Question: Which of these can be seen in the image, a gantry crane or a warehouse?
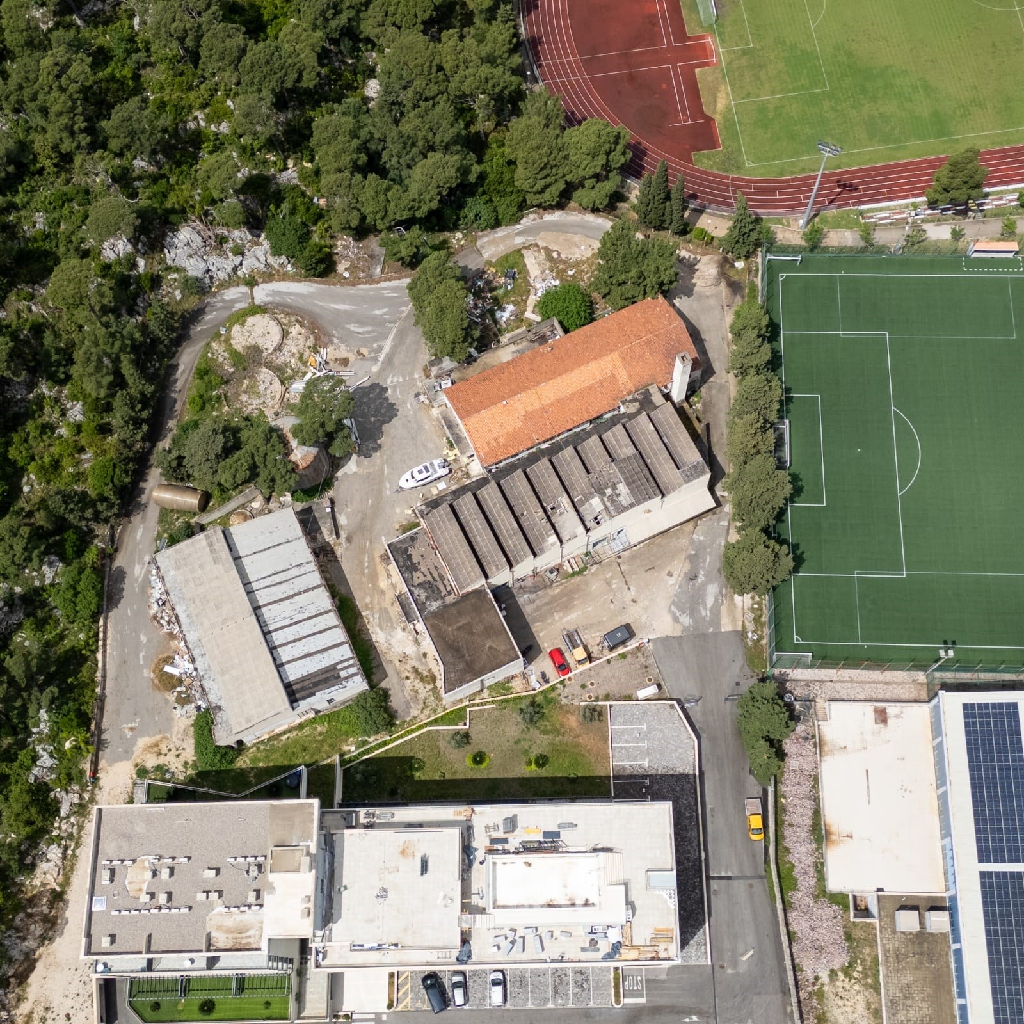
warehouse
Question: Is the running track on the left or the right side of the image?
right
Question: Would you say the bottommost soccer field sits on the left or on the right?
right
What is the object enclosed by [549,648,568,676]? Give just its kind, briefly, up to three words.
car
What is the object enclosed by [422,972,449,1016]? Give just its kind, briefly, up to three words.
vehicle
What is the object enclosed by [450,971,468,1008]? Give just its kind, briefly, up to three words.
car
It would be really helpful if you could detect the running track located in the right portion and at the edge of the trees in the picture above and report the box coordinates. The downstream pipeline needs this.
[525,0,1024,216]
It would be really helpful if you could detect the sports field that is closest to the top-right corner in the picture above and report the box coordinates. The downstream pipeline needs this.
[680,0,1024,178]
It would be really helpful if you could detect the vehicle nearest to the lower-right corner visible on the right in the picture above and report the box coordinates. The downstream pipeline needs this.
[747,798,764,840]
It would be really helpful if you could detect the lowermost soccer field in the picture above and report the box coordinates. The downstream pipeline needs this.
[752,251,1024,676]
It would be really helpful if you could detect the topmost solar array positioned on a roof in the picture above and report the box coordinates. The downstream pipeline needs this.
[963,702,1024,863]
